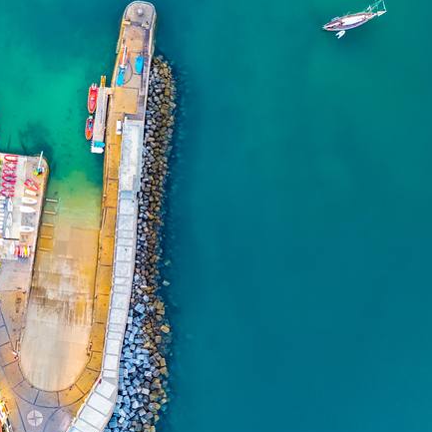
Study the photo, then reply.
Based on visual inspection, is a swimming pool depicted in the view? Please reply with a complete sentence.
No, no swimming pool is visible in the scene.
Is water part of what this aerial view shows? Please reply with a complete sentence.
Yes, some water is visible.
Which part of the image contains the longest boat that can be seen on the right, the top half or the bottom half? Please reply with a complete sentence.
The longest boat that can be seen on the right is in the top half of the image.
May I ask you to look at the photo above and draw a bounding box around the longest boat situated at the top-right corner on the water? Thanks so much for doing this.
[322,5,389,31]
